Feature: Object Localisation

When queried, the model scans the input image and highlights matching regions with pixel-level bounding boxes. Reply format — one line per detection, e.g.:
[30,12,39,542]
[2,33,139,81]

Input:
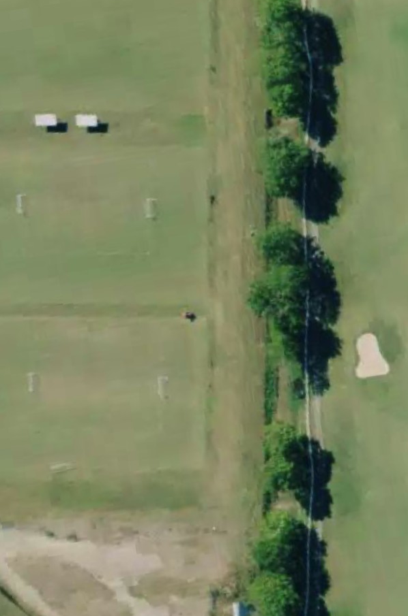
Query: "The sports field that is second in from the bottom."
[0,146,203,305]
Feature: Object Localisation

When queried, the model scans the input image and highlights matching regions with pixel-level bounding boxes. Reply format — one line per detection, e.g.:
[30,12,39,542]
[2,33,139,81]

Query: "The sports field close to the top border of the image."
[0,0,206,116]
